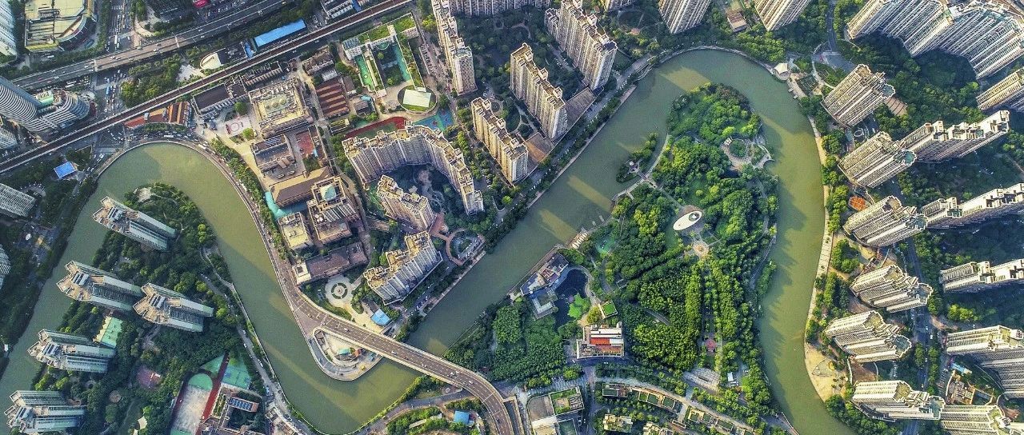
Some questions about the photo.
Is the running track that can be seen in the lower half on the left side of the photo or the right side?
left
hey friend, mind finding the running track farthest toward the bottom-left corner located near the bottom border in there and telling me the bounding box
[166,353,230,435]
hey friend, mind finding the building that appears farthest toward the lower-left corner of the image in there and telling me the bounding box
[2,391,100,433]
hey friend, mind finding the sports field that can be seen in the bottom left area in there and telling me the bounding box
[171,386,212,435]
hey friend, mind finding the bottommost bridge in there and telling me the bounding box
[278,287,516,435]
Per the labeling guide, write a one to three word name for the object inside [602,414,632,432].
house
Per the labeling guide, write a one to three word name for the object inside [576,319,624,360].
building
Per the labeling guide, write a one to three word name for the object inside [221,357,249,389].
basketball court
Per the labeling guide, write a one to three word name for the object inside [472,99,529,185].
building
